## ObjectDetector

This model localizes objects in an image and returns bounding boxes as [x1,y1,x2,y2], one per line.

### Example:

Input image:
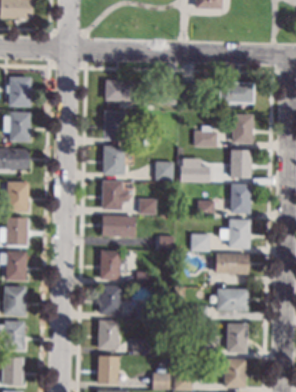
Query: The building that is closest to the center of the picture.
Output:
[138,198,158,216]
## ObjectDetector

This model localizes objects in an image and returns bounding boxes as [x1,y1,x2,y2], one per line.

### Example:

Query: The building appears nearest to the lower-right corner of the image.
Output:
[224,358,250,388]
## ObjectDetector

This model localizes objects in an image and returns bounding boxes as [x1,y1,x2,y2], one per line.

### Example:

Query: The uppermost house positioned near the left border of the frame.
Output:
[0,0,34,19]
